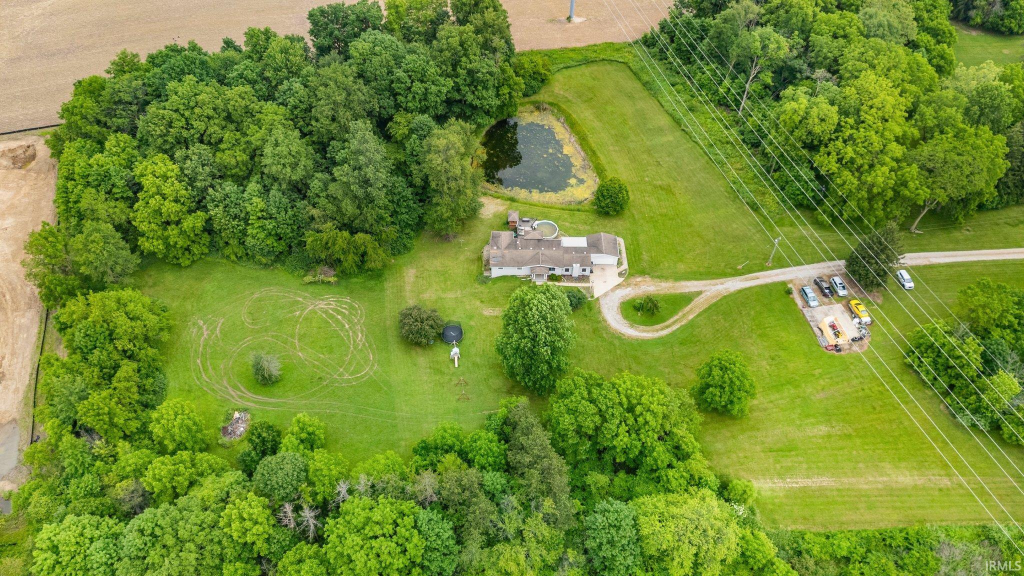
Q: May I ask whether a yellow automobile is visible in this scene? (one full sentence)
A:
Yes, a yellow automobile appears in the view.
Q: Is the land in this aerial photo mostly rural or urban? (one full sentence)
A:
This place is rural.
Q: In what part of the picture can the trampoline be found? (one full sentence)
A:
The trampoline sits in the center section of the image.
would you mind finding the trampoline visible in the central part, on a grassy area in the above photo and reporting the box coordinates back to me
[441,324,464,345]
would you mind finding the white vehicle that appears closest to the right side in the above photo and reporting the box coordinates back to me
[899,270,914,286]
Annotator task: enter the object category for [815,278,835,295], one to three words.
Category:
vehicle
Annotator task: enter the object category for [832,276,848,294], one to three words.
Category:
car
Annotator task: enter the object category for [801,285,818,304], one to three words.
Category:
car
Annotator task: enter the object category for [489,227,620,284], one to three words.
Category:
house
